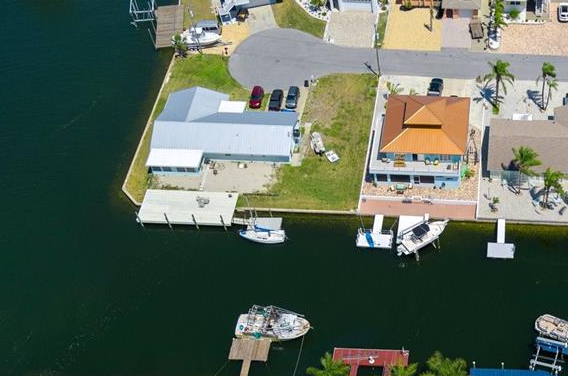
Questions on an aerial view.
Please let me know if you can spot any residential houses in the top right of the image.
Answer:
Yes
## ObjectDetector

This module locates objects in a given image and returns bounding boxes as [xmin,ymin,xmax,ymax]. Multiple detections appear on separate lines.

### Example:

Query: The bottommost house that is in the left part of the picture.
[146,86,298,177]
